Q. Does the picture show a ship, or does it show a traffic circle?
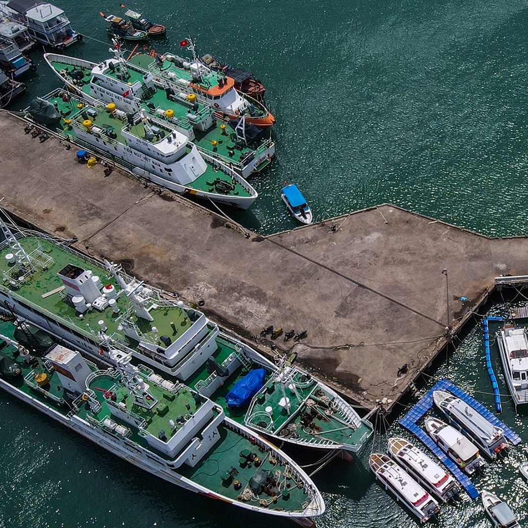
ship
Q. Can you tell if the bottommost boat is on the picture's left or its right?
right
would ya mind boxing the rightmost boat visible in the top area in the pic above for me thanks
[281,184,312,225]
